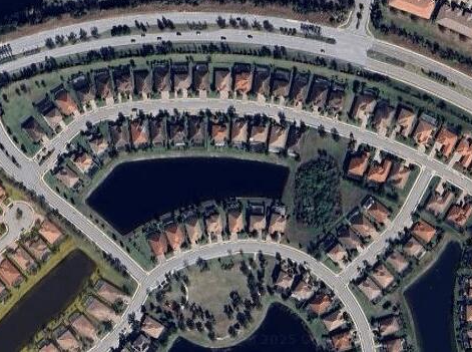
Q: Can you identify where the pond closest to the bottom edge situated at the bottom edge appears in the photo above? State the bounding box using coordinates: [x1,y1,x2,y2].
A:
[167,301,318,352]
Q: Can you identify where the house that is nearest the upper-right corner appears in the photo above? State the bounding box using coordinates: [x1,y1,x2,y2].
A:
[435,0,472,37]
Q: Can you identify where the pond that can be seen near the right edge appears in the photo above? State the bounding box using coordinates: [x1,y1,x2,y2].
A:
[404,242,461,352]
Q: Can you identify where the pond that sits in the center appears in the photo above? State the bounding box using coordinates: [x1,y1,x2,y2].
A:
[87,156,291,236]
